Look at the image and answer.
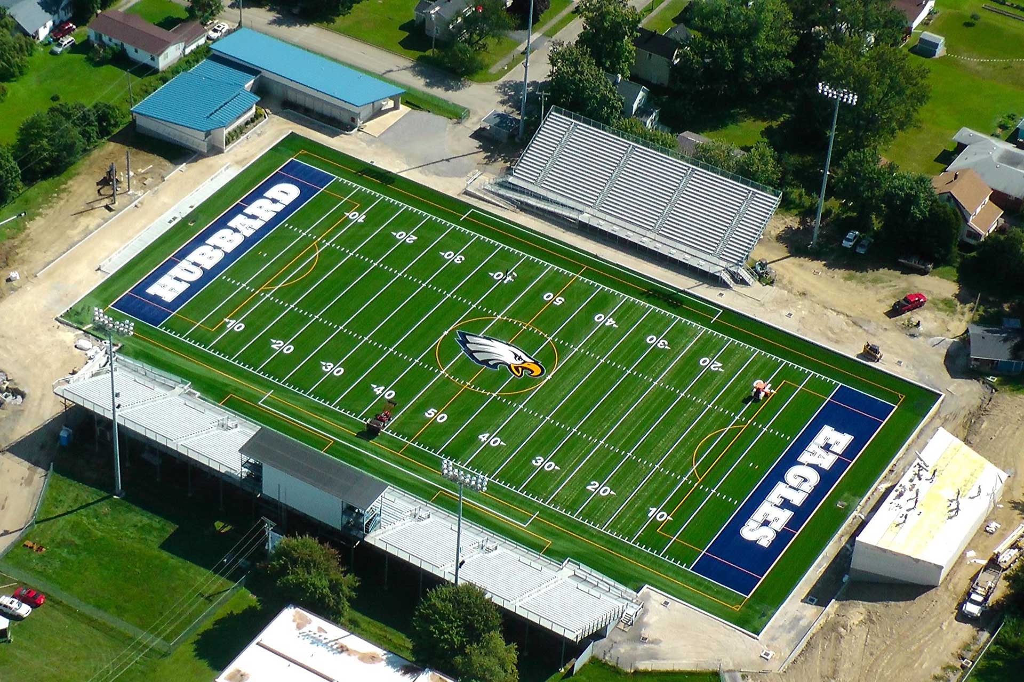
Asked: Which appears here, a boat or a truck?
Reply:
truck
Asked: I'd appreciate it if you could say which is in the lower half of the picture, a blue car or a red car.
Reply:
red car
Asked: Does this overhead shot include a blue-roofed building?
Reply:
Yes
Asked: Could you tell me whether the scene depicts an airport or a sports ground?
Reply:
sports ground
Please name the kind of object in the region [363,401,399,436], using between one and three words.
work vehicle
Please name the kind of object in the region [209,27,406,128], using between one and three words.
building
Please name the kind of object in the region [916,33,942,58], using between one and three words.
shed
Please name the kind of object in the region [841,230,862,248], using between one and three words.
car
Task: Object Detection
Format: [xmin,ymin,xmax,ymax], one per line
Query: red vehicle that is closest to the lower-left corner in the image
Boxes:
[11,587,47,609]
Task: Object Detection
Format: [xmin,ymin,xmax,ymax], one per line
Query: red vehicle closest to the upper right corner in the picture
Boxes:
[892,295,927,314]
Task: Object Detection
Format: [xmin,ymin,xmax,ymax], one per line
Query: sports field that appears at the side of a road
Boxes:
[58,133,942,636]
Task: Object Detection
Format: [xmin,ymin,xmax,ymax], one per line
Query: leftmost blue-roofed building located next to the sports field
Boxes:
[131,58,261,153]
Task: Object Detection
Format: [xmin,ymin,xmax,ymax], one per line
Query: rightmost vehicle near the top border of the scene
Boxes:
[206,22,228,39]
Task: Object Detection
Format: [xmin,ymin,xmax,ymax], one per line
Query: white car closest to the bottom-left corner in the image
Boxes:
[0,594,31,620]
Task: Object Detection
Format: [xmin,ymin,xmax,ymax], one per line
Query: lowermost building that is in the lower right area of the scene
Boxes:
[844,425,1010,586]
